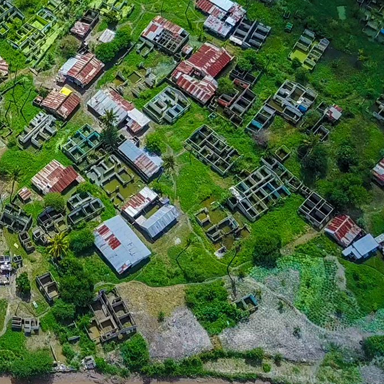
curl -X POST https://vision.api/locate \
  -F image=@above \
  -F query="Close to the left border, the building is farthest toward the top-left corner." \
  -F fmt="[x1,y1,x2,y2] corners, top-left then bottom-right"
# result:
[0,1,25,37]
